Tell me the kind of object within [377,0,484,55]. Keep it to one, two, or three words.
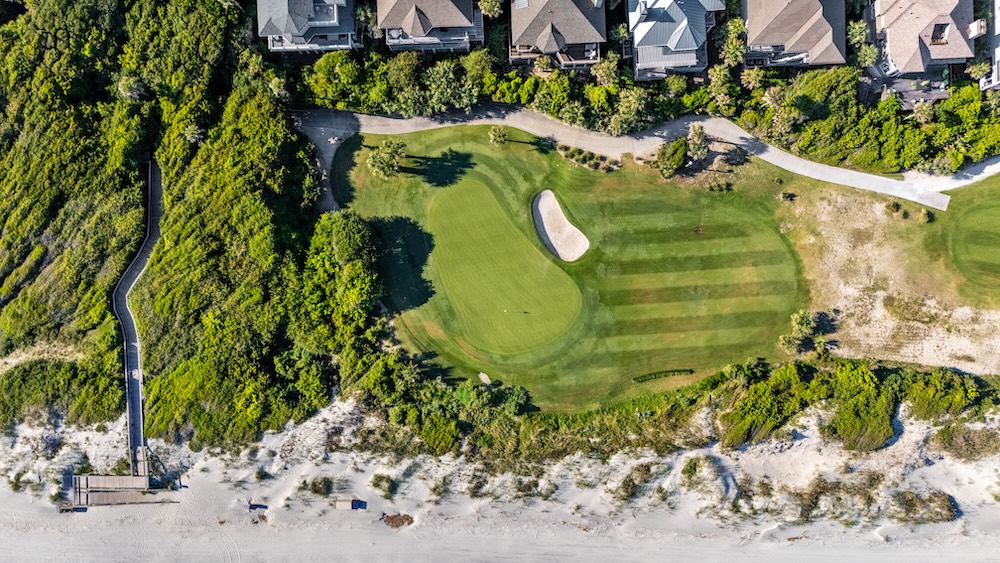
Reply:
house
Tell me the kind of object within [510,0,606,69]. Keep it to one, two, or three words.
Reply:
house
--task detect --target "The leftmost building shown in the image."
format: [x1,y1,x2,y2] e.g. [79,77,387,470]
[258,0,365,56]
